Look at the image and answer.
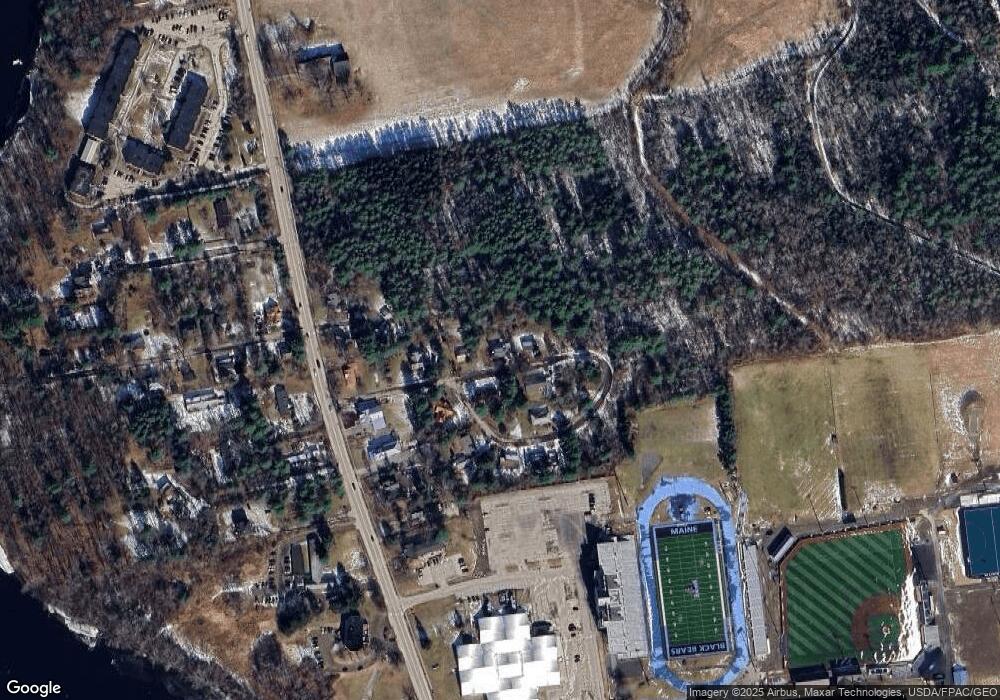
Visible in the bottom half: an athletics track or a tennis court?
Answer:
athletics track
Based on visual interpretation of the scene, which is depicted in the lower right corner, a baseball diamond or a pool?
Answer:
baseball diamond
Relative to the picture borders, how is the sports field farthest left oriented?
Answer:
up and down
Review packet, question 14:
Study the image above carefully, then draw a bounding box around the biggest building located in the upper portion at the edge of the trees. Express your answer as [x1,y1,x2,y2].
[87,32,141,138]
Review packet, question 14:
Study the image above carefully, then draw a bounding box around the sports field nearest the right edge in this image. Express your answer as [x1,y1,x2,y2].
[960,505,1000,578]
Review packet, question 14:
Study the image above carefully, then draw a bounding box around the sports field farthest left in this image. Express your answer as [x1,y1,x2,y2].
[649,519,733,660]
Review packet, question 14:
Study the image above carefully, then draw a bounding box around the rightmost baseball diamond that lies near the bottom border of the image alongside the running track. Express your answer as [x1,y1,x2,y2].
[783,525,923,672]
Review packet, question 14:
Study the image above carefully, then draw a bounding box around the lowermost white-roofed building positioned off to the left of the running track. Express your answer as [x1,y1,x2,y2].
[458,604,562,700]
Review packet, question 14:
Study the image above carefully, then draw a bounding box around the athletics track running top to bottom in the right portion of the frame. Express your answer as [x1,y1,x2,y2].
[639,476,749,699]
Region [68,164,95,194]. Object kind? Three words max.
building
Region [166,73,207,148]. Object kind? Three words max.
building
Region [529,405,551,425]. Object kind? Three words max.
house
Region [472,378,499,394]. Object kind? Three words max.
house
